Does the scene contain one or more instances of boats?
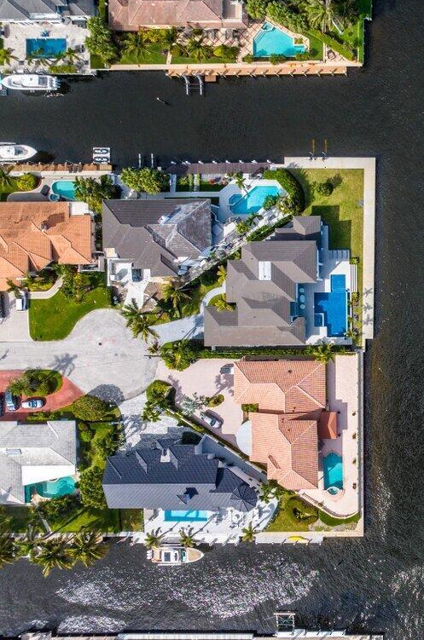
Yes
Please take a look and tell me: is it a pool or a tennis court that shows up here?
pool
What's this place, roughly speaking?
residential area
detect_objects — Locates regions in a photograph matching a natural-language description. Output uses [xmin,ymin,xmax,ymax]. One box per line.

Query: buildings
[205,216,327,346]
[109,0,250,35]
[0,421,84,505]
[0,0,102,26]
[233,361,328,489]
[102,198,218,277]
[97,436,254,509]
[0,201,99,291]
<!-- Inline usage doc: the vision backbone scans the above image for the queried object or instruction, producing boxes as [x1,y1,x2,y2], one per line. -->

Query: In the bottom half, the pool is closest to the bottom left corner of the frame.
[26,477,76,502]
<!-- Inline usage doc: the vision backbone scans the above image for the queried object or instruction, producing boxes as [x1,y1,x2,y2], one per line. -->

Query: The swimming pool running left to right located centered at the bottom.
[163,509,210,524]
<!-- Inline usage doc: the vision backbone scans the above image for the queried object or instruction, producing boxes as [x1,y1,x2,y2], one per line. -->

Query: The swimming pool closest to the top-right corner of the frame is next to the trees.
[251,19,306,59]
